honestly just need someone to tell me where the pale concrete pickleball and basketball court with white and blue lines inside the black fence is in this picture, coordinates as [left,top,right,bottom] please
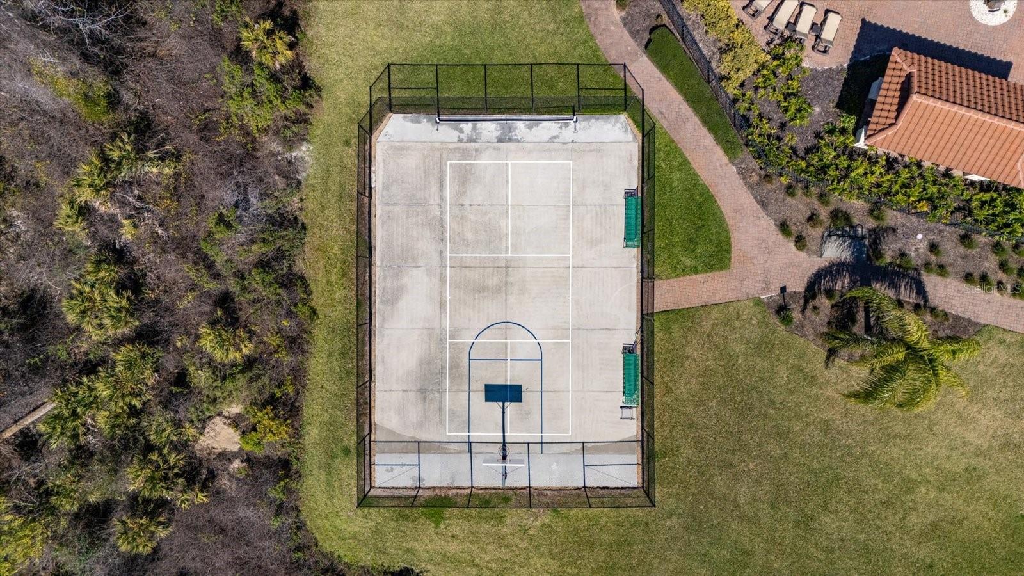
[374,115,639,487]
